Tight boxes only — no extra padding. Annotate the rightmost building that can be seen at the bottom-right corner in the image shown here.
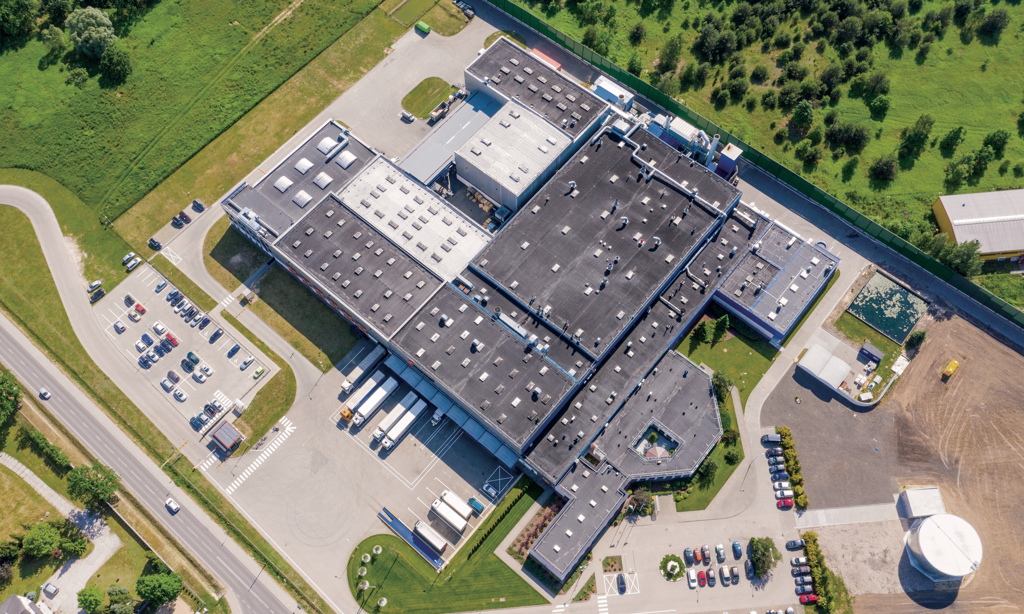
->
[900,487,947,520]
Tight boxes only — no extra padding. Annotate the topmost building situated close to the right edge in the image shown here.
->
[932,189,1024,261]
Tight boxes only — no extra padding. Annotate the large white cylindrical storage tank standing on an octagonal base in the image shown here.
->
[905,513,983,585]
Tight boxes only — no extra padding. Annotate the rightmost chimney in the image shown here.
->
[706,134,720,165]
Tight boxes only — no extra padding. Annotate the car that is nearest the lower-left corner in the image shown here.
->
[43,582,60,596]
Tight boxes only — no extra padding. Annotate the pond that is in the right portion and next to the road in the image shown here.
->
[848,271,929,344]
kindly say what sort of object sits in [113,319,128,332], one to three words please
vehicle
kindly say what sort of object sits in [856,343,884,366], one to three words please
building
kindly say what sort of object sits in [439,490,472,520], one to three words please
truck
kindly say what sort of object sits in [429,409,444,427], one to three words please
vehicle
